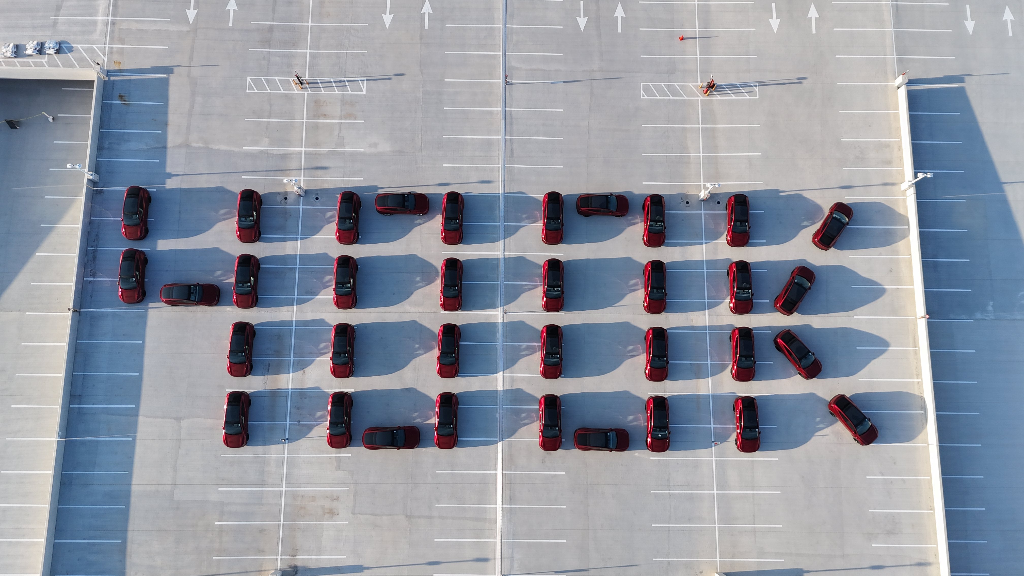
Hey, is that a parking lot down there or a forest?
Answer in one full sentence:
The picture captures a parking lot.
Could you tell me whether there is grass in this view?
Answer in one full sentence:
No, the scene doesn't show any grass.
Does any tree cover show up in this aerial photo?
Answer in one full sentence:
No, there's no tree cover in this view.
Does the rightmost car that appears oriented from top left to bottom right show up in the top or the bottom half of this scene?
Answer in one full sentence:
It is in the bottom half that the rightmost car that appears oriented from top left to bottom right appears.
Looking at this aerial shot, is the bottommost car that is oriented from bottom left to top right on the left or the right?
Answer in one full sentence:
The bottommost car that is oriented from bottom left to top right sits on the right side.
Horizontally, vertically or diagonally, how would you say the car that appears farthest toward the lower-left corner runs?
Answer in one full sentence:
From this overhead view, the car that appears farthest toward the lower-left corner appears to run vertically.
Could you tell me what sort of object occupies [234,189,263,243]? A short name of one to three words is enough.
car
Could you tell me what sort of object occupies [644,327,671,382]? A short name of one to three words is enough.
car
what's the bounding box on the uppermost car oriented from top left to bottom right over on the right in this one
[773,329,823,380]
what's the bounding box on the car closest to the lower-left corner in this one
[220,391,251,448]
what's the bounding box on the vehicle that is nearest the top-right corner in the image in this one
[811,201,855,251]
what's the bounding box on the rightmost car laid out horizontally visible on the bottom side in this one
[574,427,629,453]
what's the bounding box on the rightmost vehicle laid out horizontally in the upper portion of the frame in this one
[576,192,629,217]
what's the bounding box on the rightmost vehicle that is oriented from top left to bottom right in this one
[828,394,879,446]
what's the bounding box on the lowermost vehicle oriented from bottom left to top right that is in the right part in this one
[773,266,817,316]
